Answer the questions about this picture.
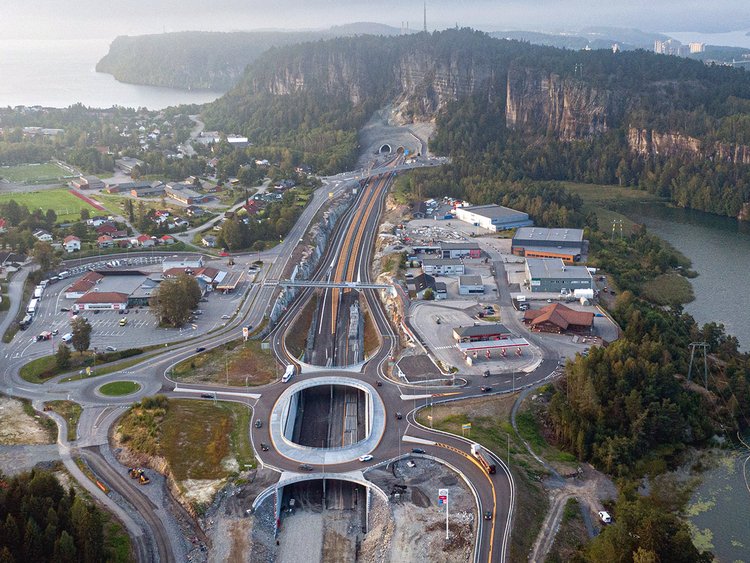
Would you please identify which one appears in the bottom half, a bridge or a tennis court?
bridge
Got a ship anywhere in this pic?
No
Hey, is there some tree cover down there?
Yes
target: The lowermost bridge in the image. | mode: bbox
[246,325,404,531]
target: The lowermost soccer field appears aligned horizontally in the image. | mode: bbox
[0,190,103,224]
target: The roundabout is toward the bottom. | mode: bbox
[73,370,154,406]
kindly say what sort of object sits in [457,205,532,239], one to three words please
building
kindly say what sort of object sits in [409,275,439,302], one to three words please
house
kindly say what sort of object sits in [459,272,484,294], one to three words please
building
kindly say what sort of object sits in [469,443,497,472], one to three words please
truck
